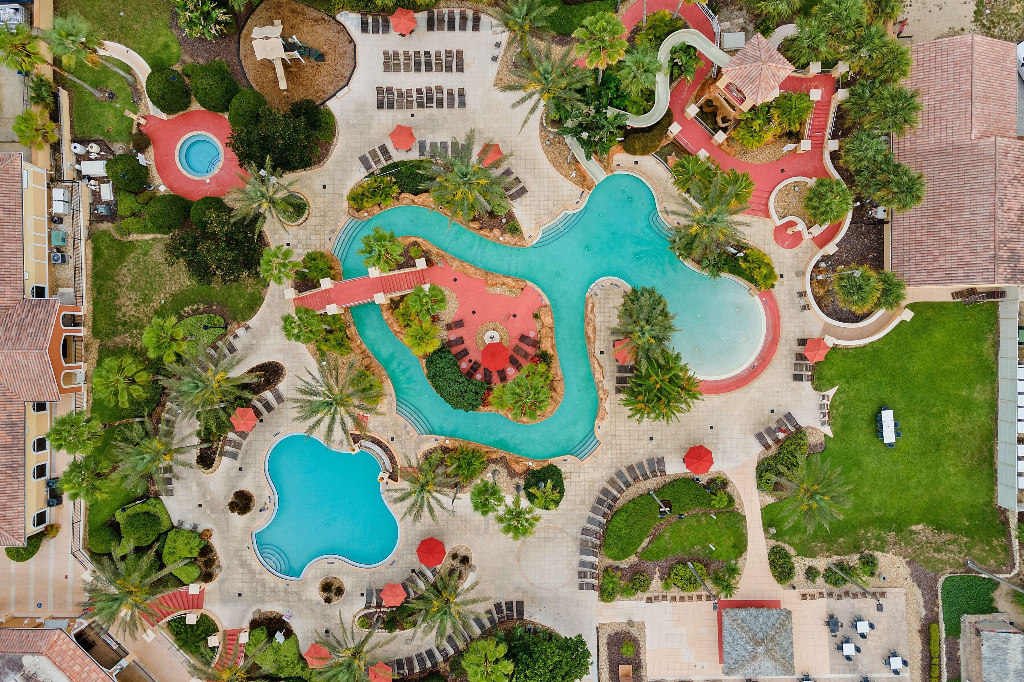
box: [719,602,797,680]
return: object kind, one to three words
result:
shed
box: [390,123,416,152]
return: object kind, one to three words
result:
umbrella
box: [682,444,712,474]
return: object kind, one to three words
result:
umbrella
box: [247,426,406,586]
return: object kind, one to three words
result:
swimming pool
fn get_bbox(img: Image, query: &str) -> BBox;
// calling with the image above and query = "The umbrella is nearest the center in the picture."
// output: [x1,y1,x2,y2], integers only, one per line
[481,342,510,371]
